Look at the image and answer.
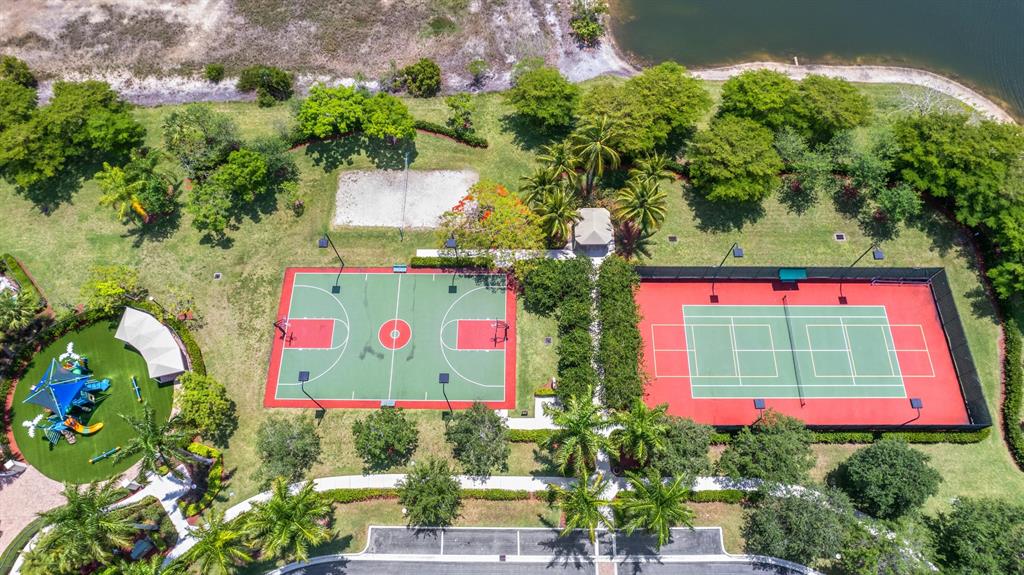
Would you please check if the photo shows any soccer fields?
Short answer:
No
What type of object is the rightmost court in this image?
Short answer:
tennis court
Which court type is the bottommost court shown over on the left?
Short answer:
basketball court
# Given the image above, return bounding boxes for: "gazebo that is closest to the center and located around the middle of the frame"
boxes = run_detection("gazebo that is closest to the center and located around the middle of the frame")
[576,207,614,256]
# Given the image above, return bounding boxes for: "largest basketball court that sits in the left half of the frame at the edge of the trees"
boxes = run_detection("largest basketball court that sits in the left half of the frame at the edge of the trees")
[264,266,516,410]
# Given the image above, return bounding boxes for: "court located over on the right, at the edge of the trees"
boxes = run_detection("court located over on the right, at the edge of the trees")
[630,279,970,426]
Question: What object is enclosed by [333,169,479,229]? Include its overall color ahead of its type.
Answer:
white sports court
